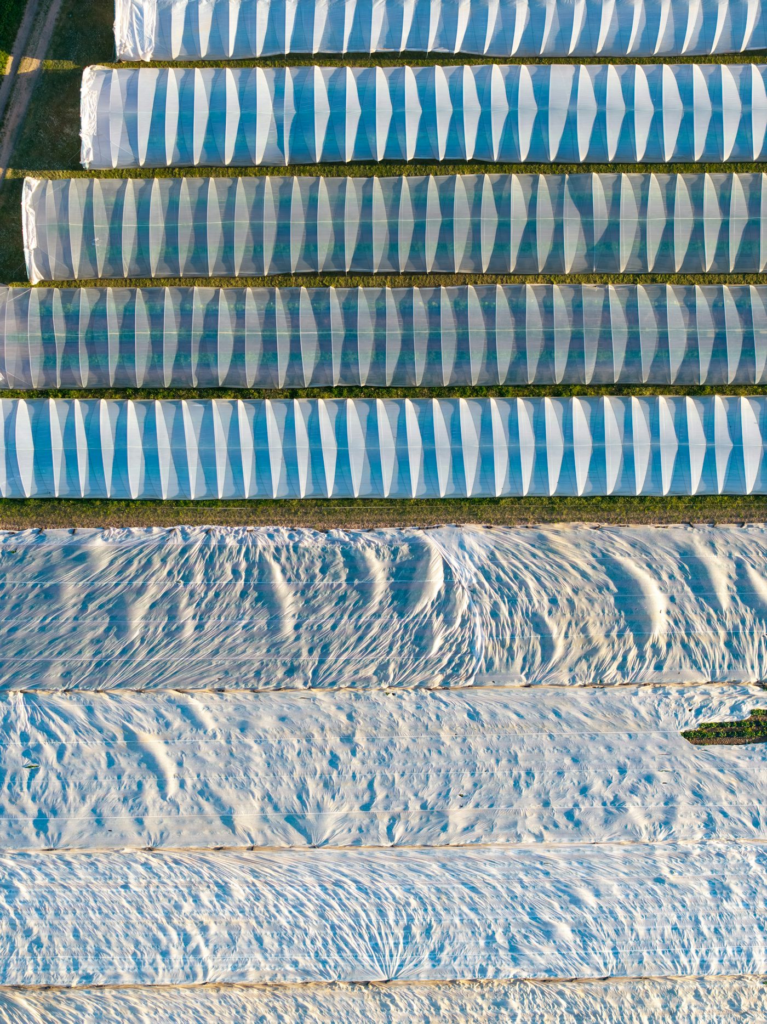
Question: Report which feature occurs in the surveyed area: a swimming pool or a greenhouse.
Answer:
greenhouse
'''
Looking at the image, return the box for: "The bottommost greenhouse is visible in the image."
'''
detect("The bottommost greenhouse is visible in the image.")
[0,395,767,501]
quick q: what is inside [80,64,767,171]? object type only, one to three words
greenhouse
